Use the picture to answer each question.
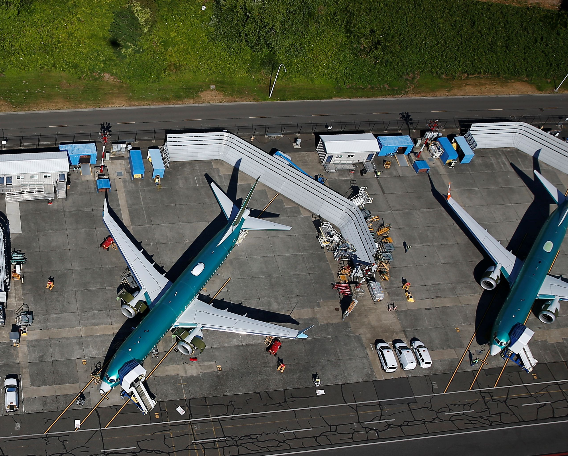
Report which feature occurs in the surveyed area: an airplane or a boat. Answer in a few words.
airplane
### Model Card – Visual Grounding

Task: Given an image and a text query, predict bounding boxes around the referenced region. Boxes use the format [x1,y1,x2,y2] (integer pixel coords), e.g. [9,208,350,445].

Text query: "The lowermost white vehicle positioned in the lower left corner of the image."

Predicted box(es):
[2,377,19,415]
